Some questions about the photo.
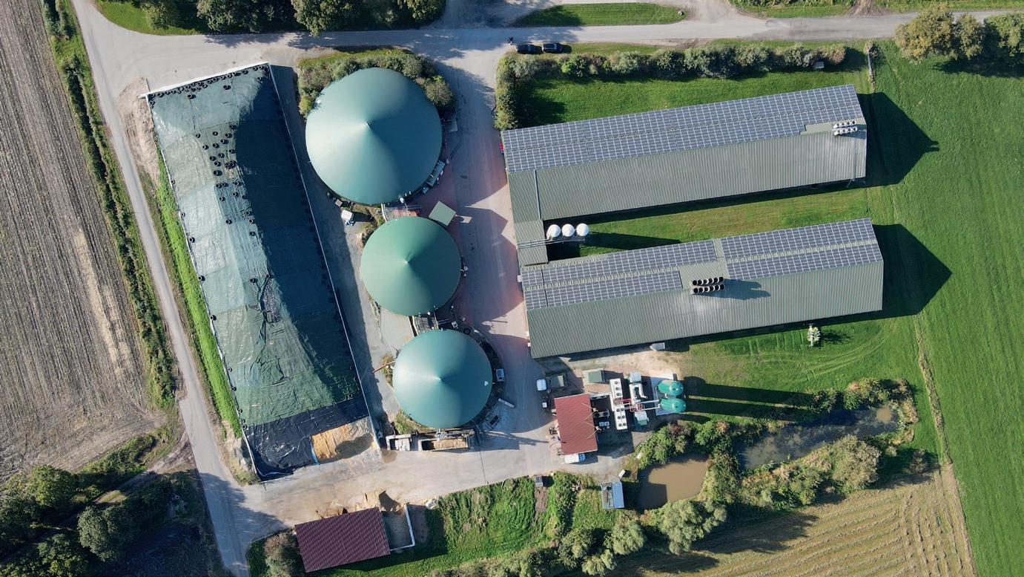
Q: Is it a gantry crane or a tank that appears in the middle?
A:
tank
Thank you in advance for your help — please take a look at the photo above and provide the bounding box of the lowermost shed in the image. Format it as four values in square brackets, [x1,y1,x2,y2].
[296,505,390,571]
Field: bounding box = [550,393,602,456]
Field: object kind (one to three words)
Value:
house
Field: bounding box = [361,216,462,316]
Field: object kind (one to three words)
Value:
storage tank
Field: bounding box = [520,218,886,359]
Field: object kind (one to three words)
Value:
barn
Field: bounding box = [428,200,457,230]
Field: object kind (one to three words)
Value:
shed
